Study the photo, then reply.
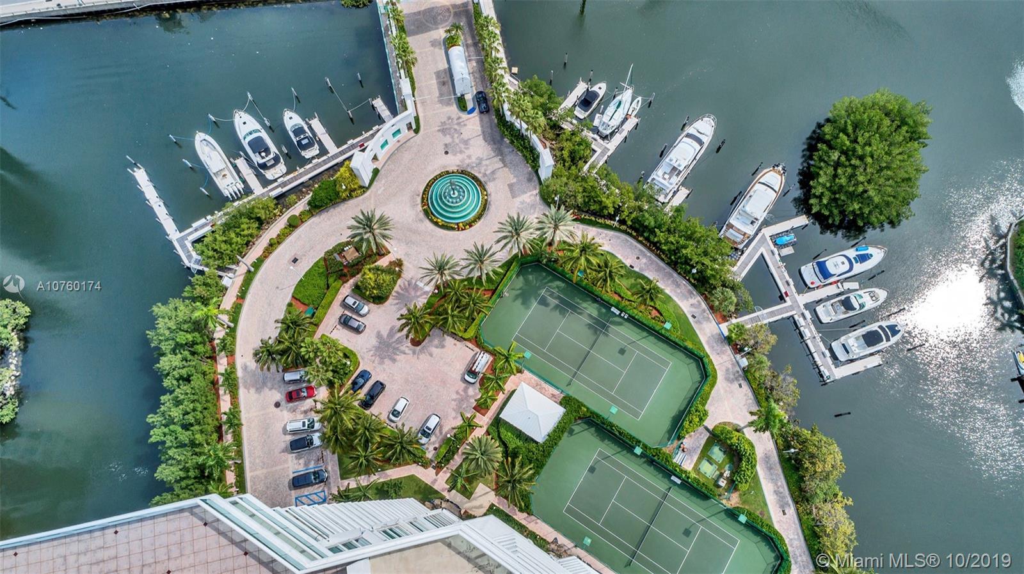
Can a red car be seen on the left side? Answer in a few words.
Yes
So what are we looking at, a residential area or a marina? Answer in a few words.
marina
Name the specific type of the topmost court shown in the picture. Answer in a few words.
tennis court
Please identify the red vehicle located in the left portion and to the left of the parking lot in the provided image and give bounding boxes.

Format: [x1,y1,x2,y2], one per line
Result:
[285,386,317,403]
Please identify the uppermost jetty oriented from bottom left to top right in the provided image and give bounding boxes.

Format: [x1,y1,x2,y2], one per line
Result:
[559,74,591,113]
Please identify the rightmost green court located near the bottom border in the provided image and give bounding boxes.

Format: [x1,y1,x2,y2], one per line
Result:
[532,418,781,574]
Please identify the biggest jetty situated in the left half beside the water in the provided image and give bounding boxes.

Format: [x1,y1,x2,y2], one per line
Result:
[175,137,372,273]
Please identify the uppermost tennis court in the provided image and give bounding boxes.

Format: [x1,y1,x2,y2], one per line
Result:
[482,264,705,446]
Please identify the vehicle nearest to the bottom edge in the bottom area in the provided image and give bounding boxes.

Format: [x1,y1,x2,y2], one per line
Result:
[292,468,327,489]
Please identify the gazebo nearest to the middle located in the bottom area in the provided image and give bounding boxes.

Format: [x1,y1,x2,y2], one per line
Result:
[500,382,565,441]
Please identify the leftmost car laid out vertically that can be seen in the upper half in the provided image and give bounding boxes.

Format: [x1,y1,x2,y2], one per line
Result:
[476,88,489,111]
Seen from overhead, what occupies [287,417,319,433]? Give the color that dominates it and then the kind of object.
white car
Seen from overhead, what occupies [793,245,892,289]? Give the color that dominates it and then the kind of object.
white boat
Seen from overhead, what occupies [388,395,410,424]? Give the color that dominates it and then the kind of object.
white car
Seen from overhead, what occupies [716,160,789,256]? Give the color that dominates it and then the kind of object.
white boat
